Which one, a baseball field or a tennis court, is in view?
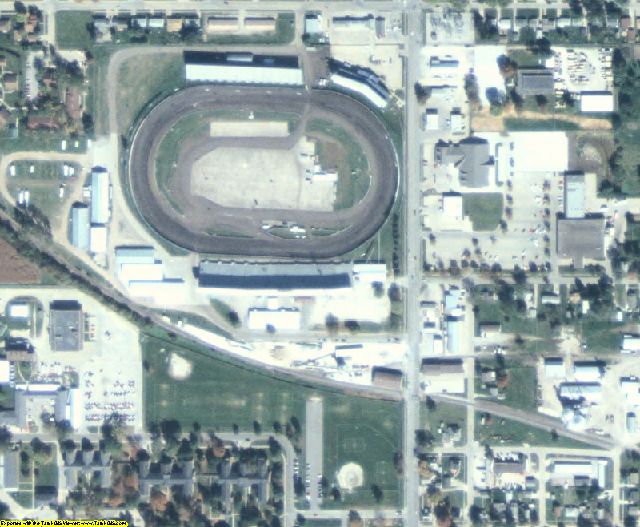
baseball field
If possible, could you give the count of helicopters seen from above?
0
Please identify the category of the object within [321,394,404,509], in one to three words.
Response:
sports field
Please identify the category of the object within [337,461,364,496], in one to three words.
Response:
baseball field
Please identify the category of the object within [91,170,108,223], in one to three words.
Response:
barn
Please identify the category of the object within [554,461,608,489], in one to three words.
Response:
building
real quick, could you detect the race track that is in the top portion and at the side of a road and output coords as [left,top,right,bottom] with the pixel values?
[125,83,402,261]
